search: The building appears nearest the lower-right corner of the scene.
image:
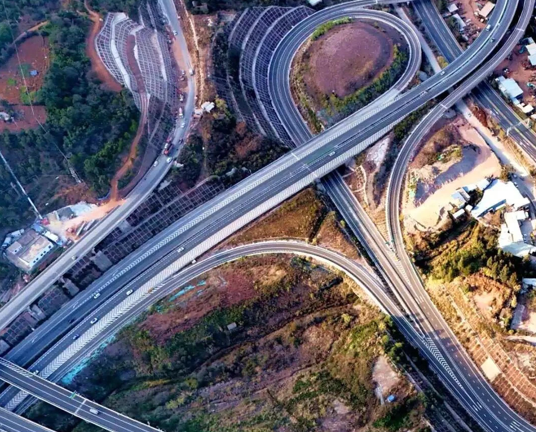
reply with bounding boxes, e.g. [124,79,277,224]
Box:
[502,243,536,263]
